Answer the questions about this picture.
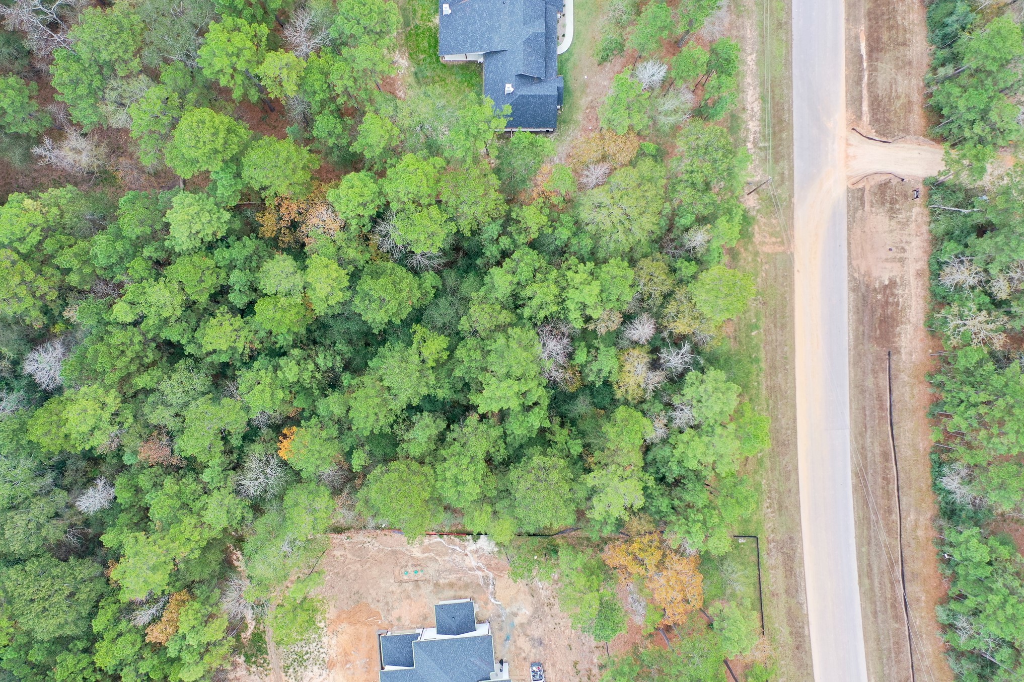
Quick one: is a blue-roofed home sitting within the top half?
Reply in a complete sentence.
Yes, a blue-roofed home can be seen within the top half.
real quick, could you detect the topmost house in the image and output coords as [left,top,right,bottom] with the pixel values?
[439,0,563,132]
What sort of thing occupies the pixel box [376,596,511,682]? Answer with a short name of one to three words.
house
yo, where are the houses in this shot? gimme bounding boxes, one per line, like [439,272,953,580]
[439,0,563,132]
[376,596,511,682]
